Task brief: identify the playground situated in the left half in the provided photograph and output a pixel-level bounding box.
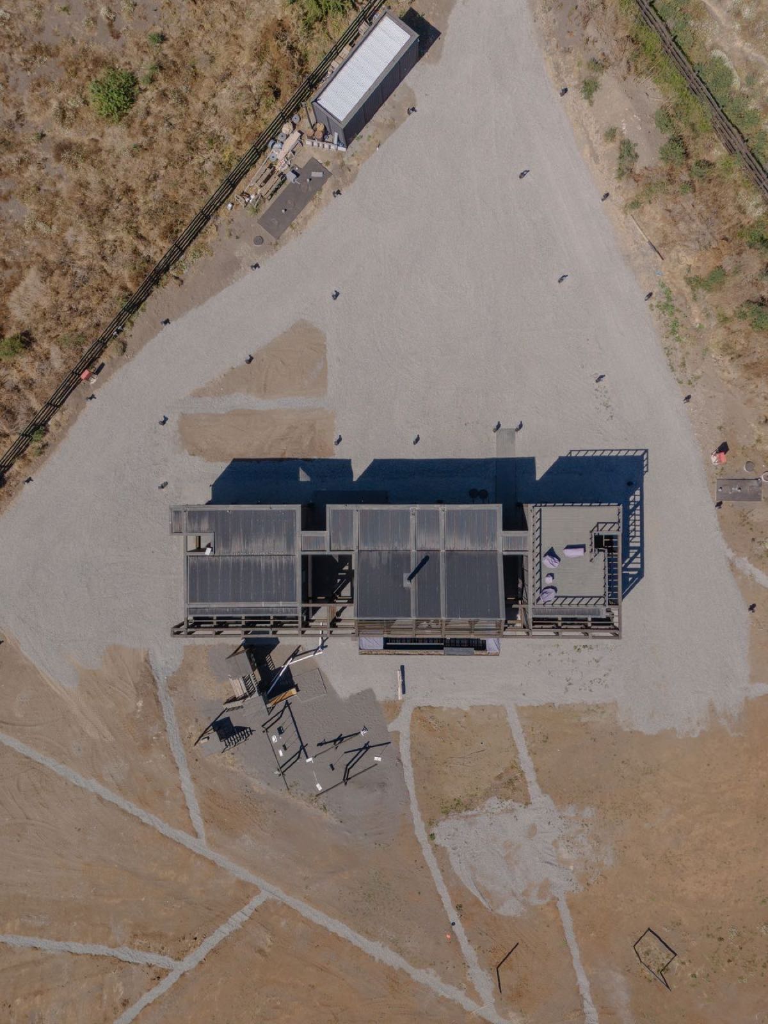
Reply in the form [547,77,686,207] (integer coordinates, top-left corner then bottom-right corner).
[184,630,411,849]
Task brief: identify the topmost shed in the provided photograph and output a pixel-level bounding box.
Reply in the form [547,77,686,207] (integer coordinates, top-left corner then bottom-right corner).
[310,9,419,147]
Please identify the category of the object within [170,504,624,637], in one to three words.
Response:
building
